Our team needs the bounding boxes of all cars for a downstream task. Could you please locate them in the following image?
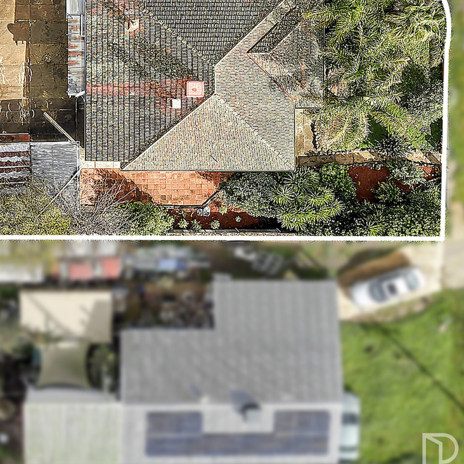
[349,263,426,311]
[340,389,362,463]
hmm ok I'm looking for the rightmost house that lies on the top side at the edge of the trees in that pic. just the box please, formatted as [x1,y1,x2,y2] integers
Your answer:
[74,0,326,171]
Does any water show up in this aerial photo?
No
